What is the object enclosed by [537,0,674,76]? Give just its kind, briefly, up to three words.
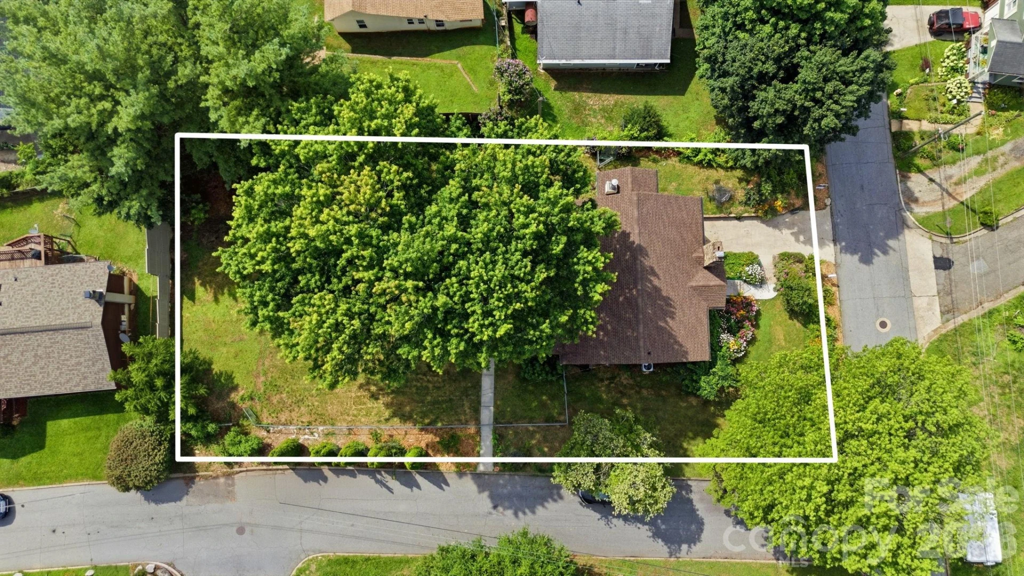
house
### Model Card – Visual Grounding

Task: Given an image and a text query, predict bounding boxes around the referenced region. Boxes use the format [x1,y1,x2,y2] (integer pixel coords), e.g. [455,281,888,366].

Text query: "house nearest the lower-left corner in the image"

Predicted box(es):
[0,260,135,424]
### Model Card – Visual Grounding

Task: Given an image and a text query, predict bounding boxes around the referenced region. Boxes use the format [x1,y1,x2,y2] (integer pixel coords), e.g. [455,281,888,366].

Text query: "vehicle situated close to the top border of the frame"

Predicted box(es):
[932,2,986,32]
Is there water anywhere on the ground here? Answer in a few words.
No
